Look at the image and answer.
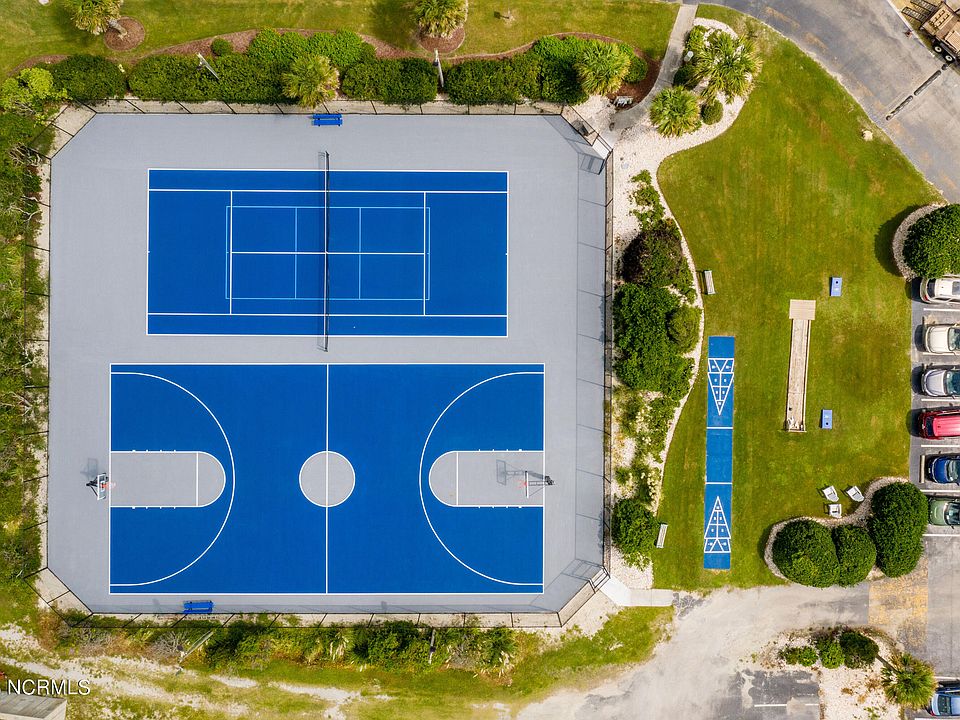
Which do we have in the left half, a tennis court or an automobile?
tennis court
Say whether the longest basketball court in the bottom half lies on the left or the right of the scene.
left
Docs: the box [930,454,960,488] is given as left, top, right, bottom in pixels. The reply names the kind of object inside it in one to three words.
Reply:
car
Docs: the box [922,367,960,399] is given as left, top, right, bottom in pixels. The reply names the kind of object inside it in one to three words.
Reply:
car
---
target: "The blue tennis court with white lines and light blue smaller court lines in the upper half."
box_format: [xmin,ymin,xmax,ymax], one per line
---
[147,168,508,337]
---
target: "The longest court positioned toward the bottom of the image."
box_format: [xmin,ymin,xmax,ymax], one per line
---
[110,364,544,594]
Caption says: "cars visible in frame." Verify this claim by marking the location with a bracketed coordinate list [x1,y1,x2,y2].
[917,277,960,306]
[930,454,960,488]
[922,367,960,399]
[929,682,960,717]
[928,496,960,528]
[916,411,960,440]
[922,322,960,356]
